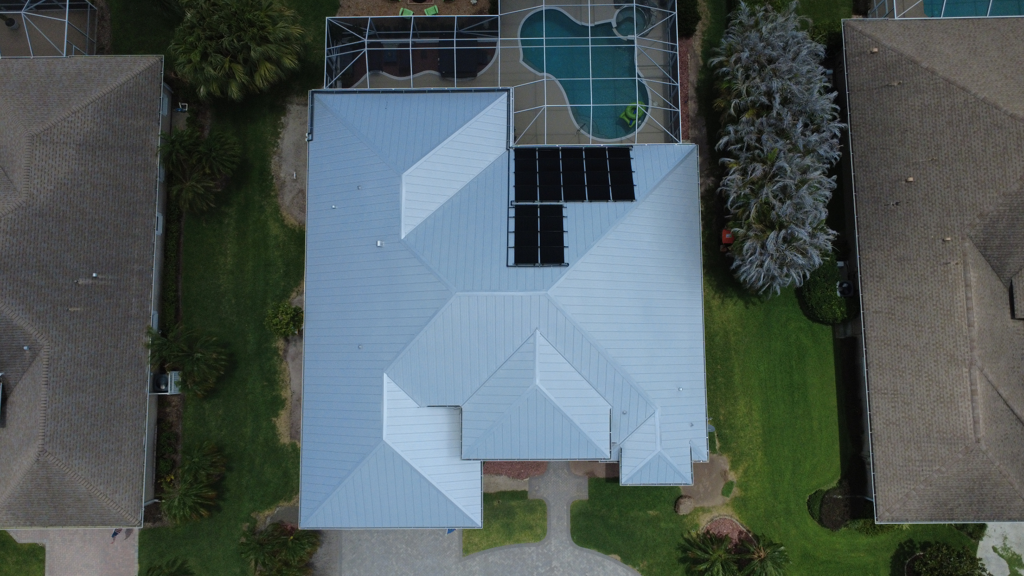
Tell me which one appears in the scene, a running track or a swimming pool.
swimming pool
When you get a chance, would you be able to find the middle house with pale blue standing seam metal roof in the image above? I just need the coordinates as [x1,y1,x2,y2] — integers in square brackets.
[299,88,709,530]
